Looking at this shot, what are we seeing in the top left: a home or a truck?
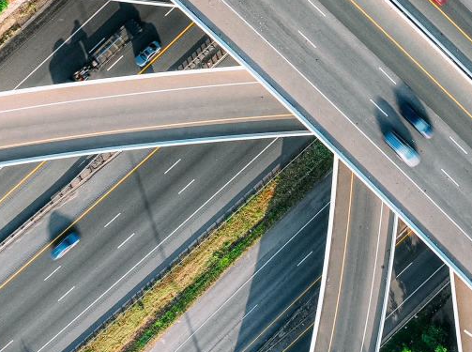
truck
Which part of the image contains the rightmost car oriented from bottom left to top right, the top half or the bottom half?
top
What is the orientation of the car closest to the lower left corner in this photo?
diagonally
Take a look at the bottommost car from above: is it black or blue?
blue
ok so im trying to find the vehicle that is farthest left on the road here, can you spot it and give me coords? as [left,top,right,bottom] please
[49,230,81,261]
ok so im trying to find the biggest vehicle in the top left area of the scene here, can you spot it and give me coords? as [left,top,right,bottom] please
[61,8,161,85]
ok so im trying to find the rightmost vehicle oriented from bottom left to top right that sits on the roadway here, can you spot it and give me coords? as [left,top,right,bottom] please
[133,38,166,68]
